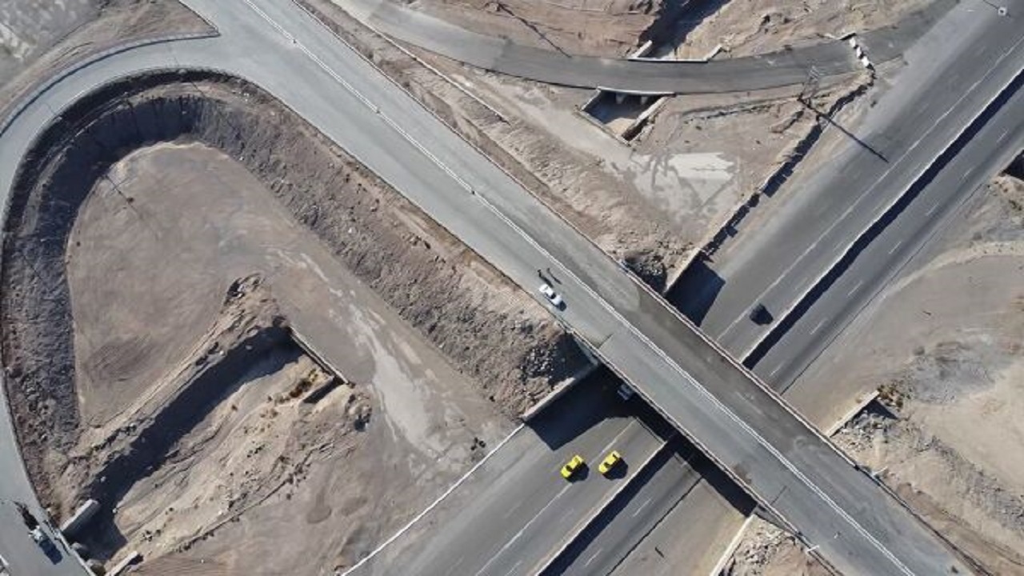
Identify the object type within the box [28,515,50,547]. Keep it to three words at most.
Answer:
truck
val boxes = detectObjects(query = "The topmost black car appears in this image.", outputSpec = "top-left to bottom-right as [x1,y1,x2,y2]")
[749,304,768,322]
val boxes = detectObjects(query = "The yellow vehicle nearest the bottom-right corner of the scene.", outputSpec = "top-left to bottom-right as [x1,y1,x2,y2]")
[599,452,621,475]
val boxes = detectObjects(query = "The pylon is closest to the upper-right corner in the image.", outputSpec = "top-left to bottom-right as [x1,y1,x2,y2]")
[799,67,827,107]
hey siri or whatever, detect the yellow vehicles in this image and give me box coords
[560,456,583,479]
[599,452,621,475]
